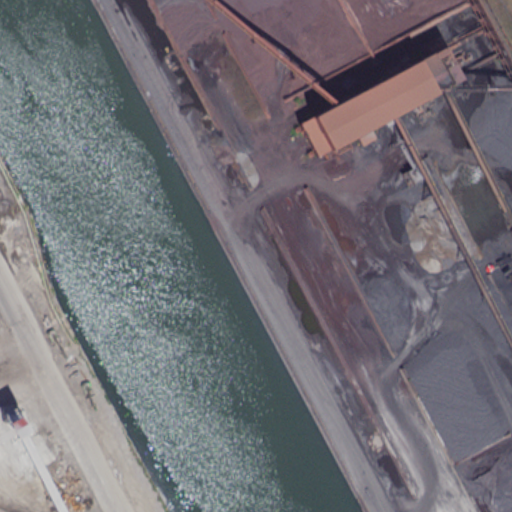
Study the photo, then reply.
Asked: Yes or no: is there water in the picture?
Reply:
Yes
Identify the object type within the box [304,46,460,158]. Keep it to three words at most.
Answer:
shed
